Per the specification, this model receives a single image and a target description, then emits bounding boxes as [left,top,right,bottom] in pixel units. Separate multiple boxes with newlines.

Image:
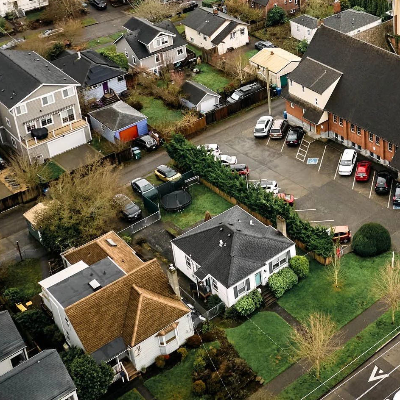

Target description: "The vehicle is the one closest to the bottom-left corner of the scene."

[109,197,147,222]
